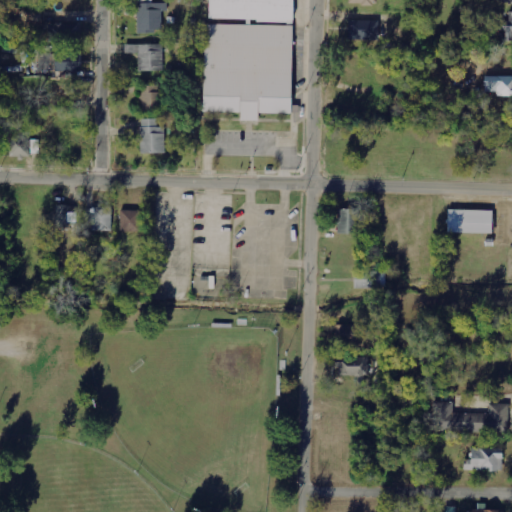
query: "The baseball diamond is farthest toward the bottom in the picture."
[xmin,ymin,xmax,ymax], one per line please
[0,438,171,512]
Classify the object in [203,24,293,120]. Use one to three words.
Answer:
building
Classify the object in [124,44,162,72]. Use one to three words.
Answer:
house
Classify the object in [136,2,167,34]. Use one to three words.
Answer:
house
